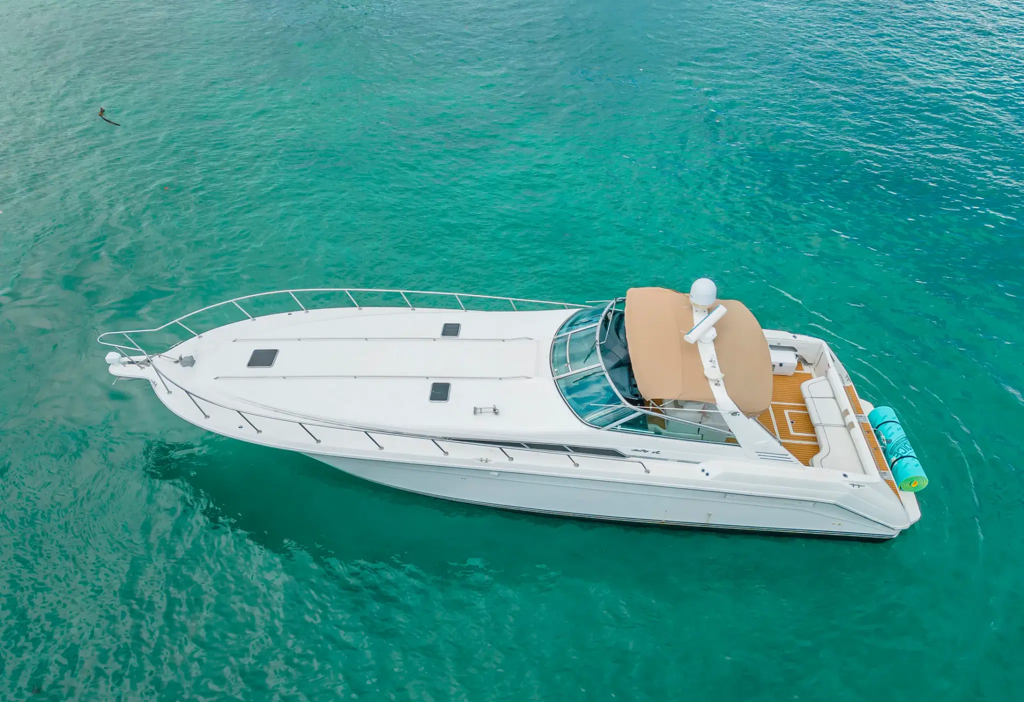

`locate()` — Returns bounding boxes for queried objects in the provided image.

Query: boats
[97,280,918,539]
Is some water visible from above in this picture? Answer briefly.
Yes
